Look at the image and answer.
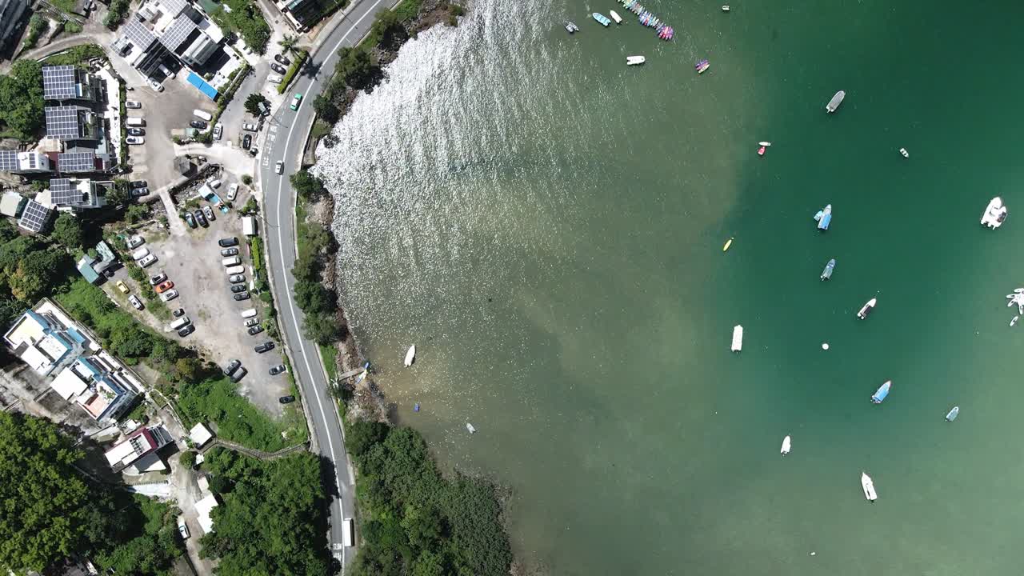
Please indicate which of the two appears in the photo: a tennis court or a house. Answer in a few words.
house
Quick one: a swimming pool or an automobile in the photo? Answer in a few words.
automobile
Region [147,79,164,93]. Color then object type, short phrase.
white car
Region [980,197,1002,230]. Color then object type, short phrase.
white boat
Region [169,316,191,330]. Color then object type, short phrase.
white vehicle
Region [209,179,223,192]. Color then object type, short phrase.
white vehicle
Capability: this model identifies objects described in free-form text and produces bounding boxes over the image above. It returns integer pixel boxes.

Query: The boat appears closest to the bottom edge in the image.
[863,473,878,503]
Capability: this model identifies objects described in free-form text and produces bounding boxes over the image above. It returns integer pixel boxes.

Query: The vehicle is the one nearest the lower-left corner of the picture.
[177,516,190,538]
